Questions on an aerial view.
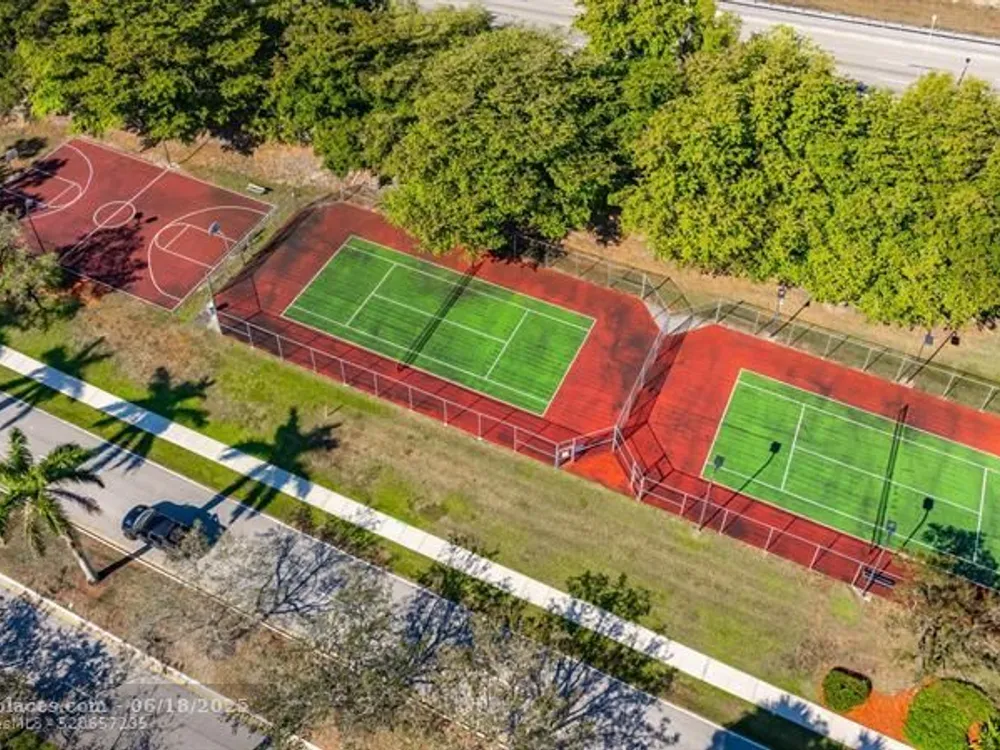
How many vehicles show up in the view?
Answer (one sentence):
Just 1 vehicle appears in this view.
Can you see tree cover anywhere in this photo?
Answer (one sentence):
Yes, tree cover shows up in the scene.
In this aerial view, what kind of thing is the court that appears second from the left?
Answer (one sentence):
I'd identify the court that appears second from the left as a tennis court.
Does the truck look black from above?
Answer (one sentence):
Yes, the truck is black.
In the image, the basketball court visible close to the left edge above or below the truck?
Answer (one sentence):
Within the scene, the basketball court visible close to the left edge can be found above the truck.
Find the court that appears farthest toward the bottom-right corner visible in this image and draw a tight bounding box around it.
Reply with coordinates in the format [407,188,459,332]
[596,323,1000,635]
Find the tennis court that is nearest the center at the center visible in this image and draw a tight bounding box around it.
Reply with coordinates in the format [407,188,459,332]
[215,198,664,482]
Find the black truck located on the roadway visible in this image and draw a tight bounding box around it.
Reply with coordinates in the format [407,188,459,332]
[120,501,207,562]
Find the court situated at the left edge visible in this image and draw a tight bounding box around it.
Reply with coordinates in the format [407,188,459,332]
[0,137,276,312]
